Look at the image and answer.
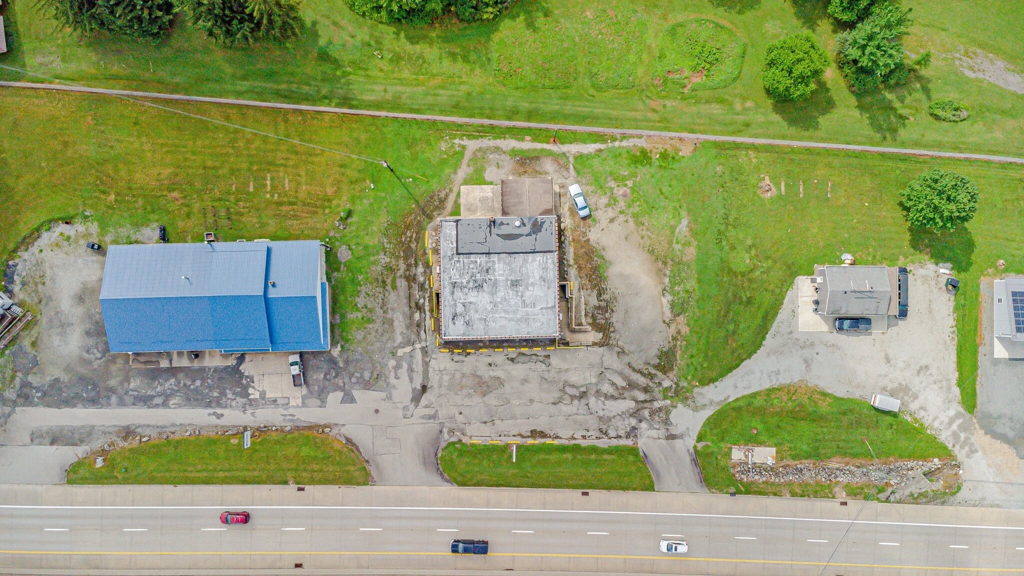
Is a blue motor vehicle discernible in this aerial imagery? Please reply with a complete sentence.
Yes, the picture does show a blue motor vehicle.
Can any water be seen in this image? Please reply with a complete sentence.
No, water can't be seen anywhere here.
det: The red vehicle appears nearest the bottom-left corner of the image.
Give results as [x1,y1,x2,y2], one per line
[220,509,250,525]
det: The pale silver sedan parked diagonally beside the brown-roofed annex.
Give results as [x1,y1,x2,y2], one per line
[570,185,589,218]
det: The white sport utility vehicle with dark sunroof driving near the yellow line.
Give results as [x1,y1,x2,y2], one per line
[659,538,688,555]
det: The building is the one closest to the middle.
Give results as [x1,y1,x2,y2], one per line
[435,217,564,344]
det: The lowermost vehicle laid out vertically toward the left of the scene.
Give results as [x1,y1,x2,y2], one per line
[287,353,306,389]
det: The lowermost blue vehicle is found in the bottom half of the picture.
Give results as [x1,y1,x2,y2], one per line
[450,538,489,555]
